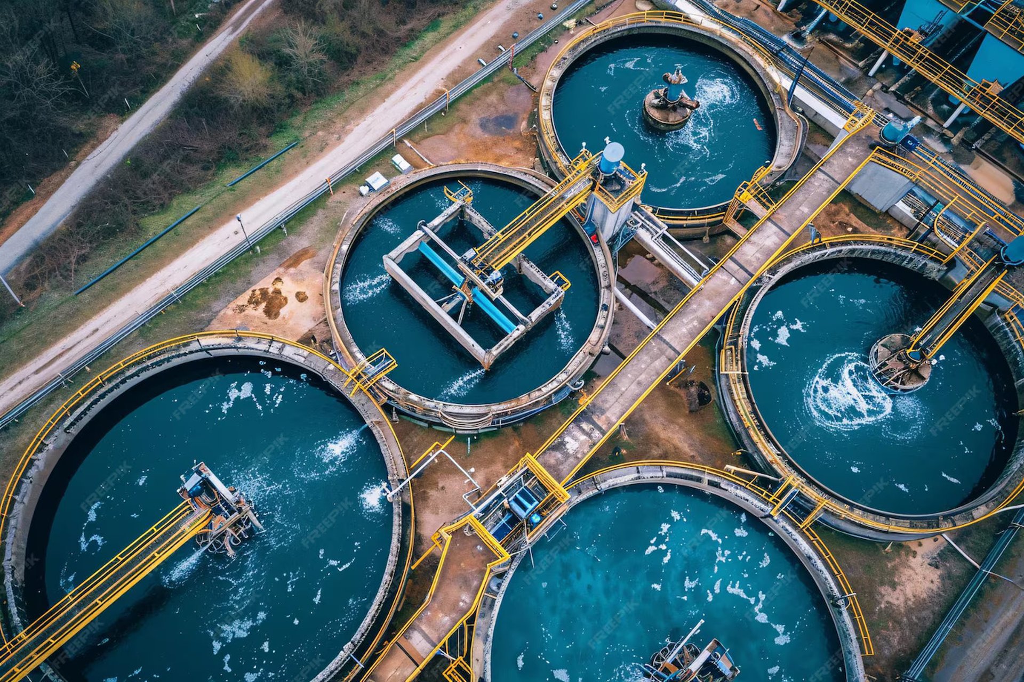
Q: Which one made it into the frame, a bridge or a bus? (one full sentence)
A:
It is a bridge that can be seen here.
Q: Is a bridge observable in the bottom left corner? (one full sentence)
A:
Yes, in the bottom left corner there is a bridge.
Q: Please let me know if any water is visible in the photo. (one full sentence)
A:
Yes, water shows up in the scene.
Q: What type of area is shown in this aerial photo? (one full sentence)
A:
This image shows an industrial area.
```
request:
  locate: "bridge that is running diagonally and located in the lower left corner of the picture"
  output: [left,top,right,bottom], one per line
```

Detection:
[0,501,221,680]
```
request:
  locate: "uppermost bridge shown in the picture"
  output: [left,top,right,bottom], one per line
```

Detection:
[475,162,596,272]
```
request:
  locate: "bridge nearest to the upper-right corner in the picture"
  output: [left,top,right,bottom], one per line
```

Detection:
[905,248,1024,365]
